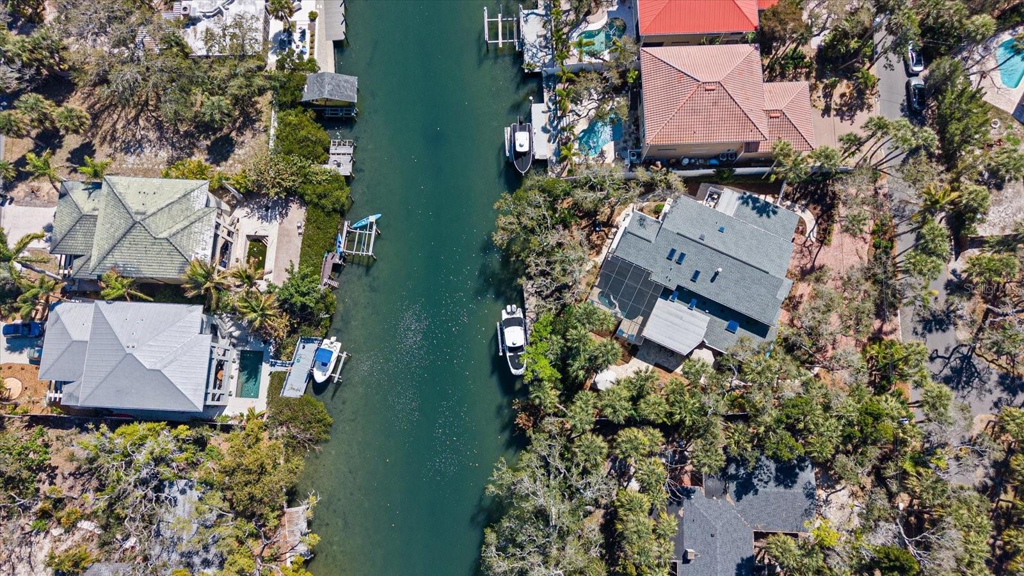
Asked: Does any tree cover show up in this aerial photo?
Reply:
Yes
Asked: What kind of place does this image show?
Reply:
residential area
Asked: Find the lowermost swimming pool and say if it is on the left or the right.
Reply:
left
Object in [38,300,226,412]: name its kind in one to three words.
house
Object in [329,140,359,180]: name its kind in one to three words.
pier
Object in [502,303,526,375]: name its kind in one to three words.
boat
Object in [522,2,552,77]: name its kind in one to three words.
pier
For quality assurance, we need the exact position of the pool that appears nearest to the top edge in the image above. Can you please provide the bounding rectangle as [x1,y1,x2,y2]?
[573,11,633,61]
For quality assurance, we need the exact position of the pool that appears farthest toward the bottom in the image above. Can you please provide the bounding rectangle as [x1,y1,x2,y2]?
[233,348,265,400]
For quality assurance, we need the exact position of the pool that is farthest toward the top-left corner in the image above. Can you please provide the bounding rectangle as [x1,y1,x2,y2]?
[242,233,270,274]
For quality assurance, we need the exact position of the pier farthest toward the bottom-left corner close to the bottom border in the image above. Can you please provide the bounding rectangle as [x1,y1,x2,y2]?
[284,506,318,563]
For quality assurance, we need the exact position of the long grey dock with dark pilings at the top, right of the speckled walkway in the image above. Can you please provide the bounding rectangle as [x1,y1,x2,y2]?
[325,0,345,42]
